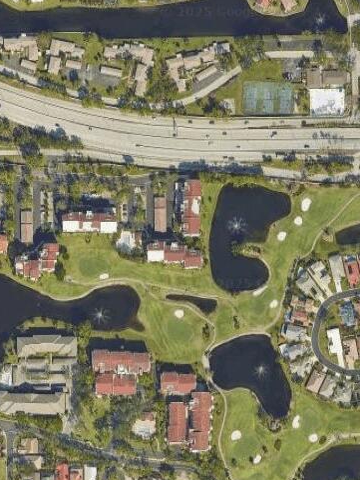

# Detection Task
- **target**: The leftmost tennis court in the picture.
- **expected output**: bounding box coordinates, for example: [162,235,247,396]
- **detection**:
[244,82,260,114]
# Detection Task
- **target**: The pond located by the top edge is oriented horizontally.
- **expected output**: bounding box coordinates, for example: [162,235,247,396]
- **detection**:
[0,0,348,39]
